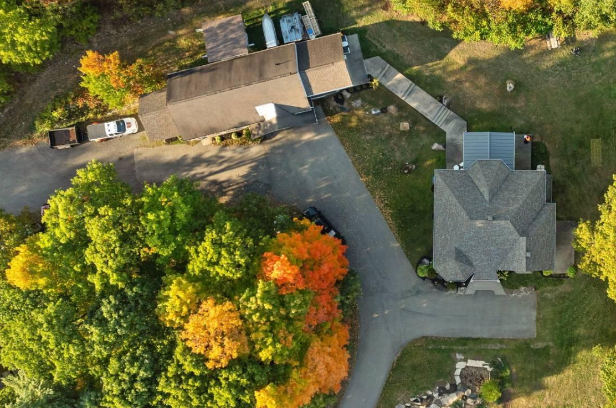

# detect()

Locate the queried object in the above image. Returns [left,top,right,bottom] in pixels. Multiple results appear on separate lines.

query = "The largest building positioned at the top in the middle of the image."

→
[138,32,353,141]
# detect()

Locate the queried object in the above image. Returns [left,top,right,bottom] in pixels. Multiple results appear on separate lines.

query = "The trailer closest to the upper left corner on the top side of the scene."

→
[47,124,88,148]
